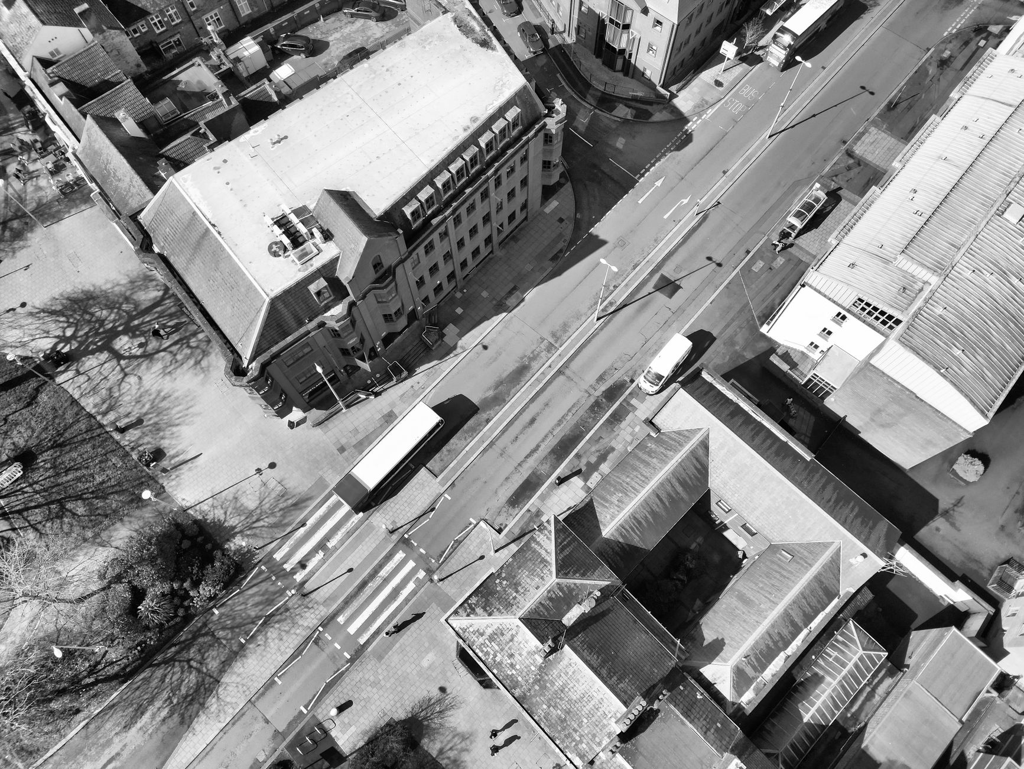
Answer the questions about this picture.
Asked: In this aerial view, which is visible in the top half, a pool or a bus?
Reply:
bus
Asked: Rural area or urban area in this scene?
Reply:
urban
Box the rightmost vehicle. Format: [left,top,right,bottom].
[765,0,840,70]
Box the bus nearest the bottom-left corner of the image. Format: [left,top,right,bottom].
[332,403,444,517]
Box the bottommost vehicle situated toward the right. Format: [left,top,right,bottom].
[640,328,693,391]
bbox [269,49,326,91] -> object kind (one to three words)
truck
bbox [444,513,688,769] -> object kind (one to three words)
house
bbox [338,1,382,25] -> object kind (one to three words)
car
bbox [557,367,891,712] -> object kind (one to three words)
building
